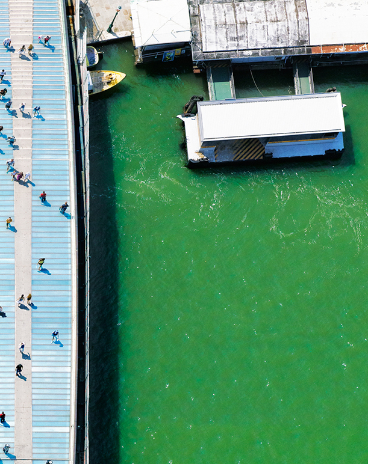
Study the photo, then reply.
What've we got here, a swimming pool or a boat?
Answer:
boat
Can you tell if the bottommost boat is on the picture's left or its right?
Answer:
left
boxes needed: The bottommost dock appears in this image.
[176,88,350,166]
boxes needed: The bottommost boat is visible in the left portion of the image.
[85,69,127,95]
